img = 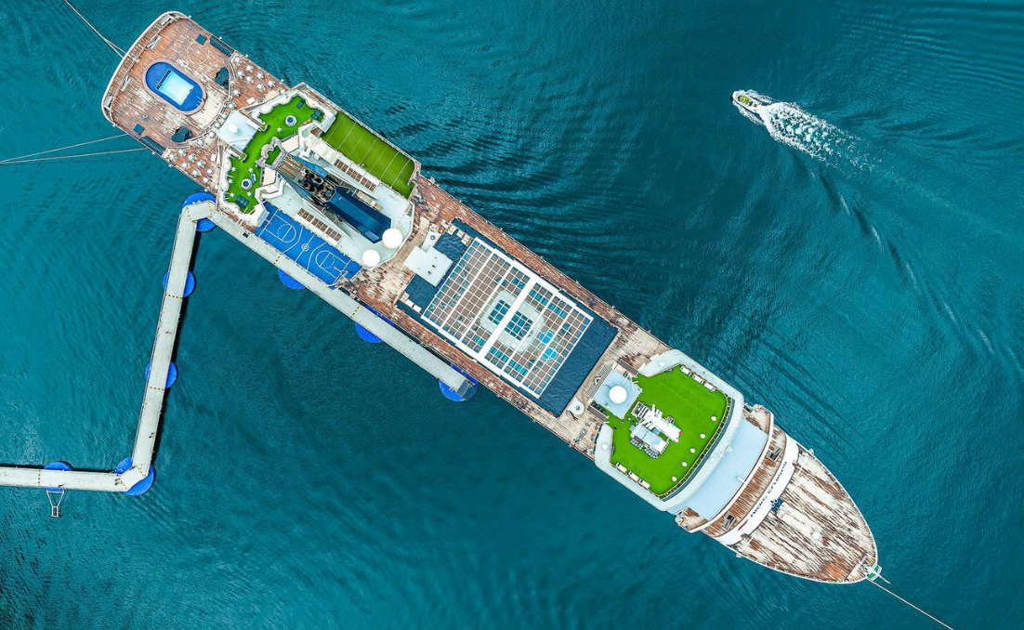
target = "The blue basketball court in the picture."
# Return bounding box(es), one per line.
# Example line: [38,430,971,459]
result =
[254,205,364,290]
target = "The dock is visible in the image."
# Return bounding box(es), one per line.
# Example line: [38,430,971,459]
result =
[0,192,478,517]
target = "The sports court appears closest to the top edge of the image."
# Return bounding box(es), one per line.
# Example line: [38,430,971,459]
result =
[322,108,421,199]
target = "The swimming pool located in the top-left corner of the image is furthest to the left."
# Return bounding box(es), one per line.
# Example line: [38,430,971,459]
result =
[146,60,206,113]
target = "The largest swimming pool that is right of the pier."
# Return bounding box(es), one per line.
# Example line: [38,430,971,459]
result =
[486,299,535,342]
